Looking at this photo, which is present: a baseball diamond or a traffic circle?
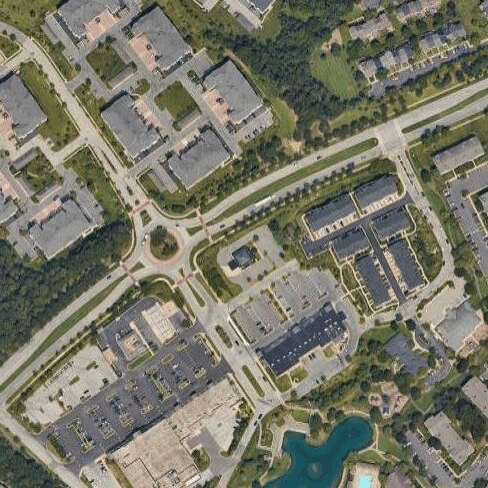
traffic circle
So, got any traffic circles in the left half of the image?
Yes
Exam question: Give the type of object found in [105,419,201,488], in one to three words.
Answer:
building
